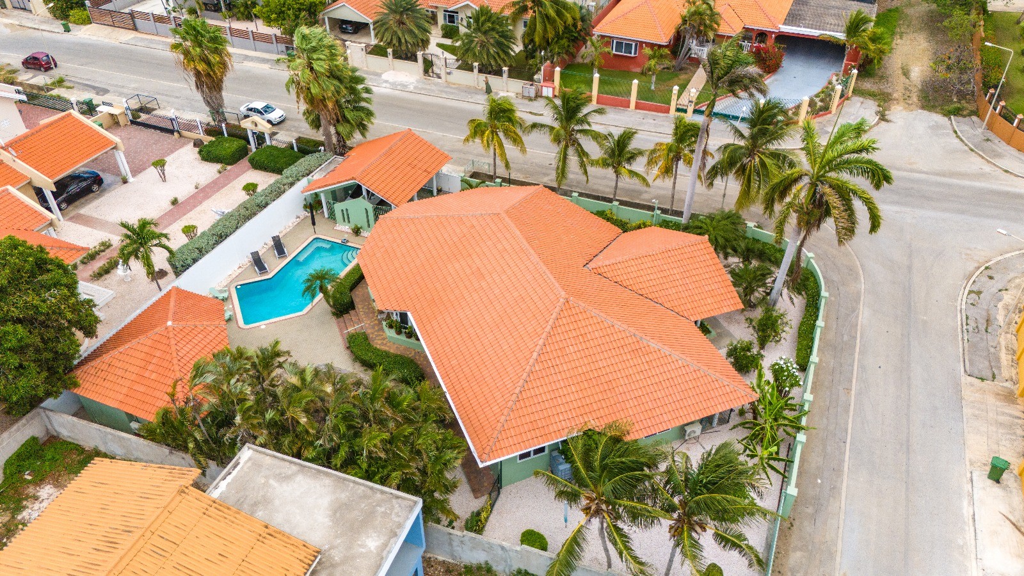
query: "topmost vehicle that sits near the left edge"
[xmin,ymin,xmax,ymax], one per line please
[18,50,55,71]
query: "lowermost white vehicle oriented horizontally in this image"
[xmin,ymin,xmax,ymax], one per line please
[236,101,287,125]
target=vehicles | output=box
[18,50,55,71]
[236,101,287,125]
[32,172,101,211]
[335,18,371,37]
